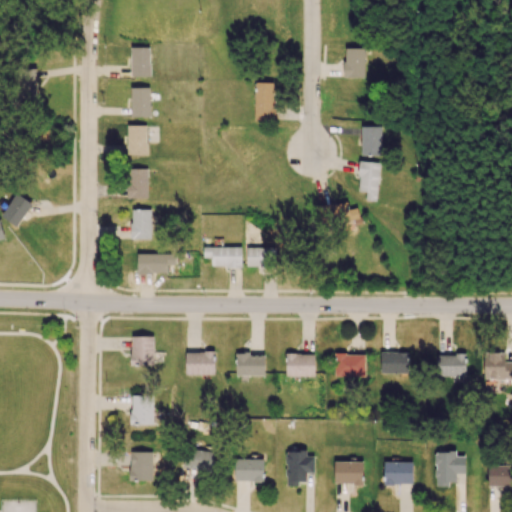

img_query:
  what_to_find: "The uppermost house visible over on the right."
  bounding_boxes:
[344,48,366,78]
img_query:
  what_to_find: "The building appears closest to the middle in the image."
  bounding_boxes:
[247,248,275,268]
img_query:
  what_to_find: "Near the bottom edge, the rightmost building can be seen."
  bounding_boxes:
[490,466,512,488]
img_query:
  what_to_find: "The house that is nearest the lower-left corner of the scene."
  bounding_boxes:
[130,452,154,482]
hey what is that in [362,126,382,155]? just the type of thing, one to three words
house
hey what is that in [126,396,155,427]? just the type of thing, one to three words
house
